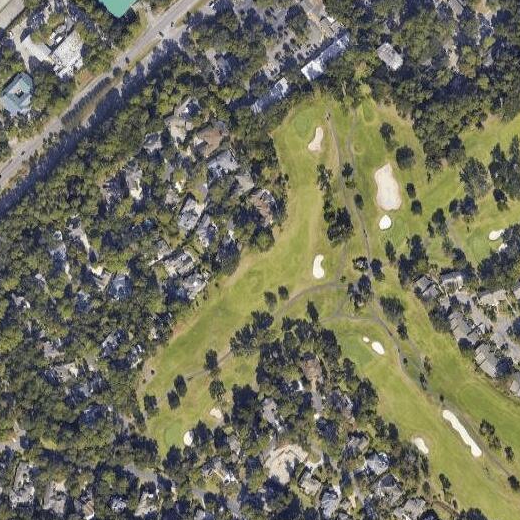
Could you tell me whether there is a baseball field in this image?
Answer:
No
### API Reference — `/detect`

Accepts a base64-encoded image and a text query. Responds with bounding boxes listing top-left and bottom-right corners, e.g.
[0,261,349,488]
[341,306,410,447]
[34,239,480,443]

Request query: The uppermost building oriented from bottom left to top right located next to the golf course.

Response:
[302,34,352,80]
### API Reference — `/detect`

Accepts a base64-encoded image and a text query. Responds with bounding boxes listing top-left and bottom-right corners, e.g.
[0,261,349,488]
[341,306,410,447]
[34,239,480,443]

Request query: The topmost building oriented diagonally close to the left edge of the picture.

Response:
[0,0,26,31]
